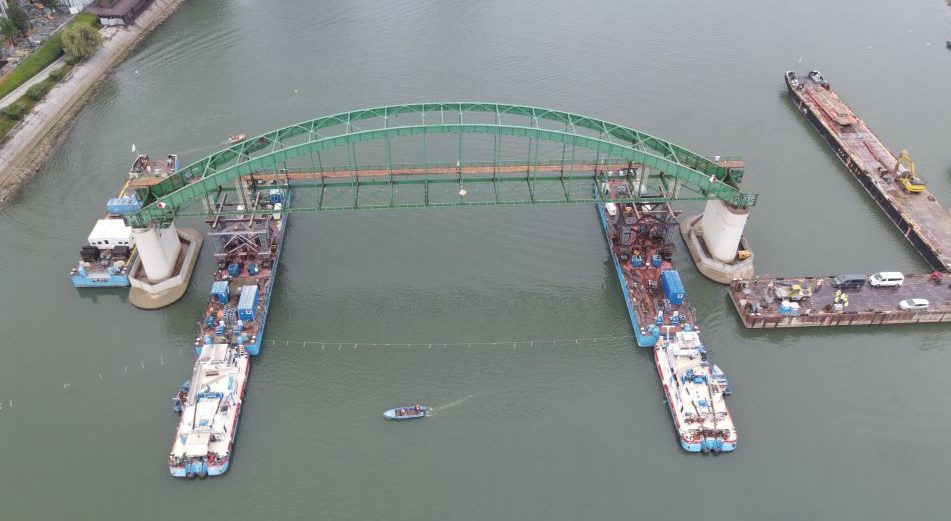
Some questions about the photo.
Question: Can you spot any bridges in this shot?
Yes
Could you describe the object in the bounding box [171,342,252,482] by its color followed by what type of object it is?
white boat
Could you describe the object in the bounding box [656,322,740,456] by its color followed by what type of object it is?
white boat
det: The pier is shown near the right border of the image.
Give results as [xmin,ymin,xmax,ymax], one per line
[723,272,951,328]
